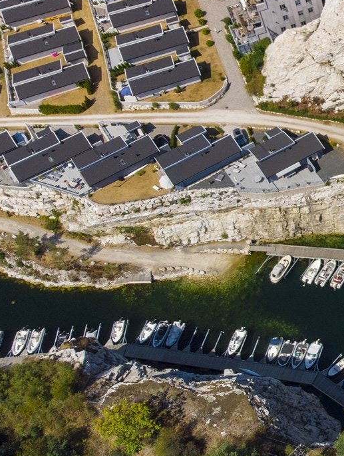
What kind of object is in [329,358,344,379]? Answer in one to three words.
boat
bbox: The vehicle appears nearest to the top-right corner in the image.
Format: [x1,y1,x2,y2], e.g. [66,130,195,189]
[230,127,249,147]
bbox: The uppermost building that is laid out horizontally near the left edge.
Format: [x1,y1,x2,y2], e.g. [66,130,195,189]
[0,0,75,33]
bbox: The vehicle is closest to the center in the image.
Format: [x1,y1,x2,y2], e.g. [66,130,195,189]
[152,131,170,151]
